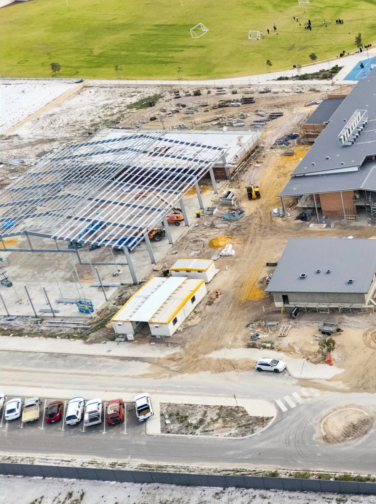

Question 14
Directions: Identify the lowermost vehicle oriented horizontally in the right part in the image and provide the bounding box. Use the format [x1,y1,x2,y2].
[254,358,286,372]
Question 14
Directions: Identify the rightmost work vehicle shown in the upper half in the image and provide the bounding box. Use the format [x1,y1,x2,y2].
[242,183,264,201]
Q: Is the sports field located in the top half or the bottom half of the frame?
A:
top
